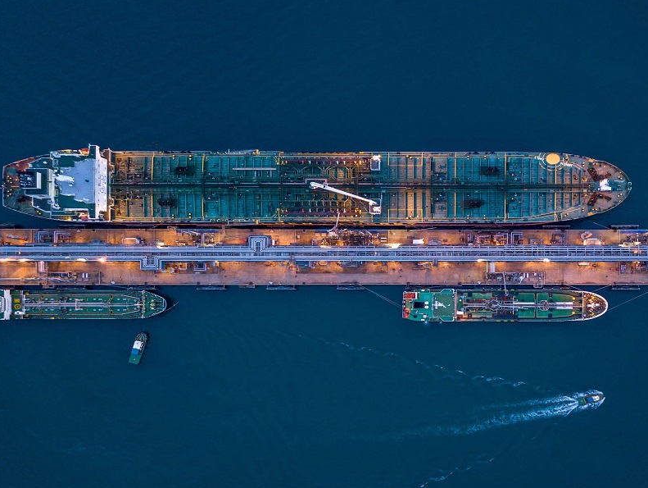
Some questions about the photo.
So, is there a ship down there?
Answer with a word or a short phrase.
Yes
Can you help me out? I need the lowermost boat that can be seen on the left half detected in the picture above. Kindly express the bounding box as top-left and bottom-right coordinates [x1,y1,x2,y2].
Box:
[128,333,145,365]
